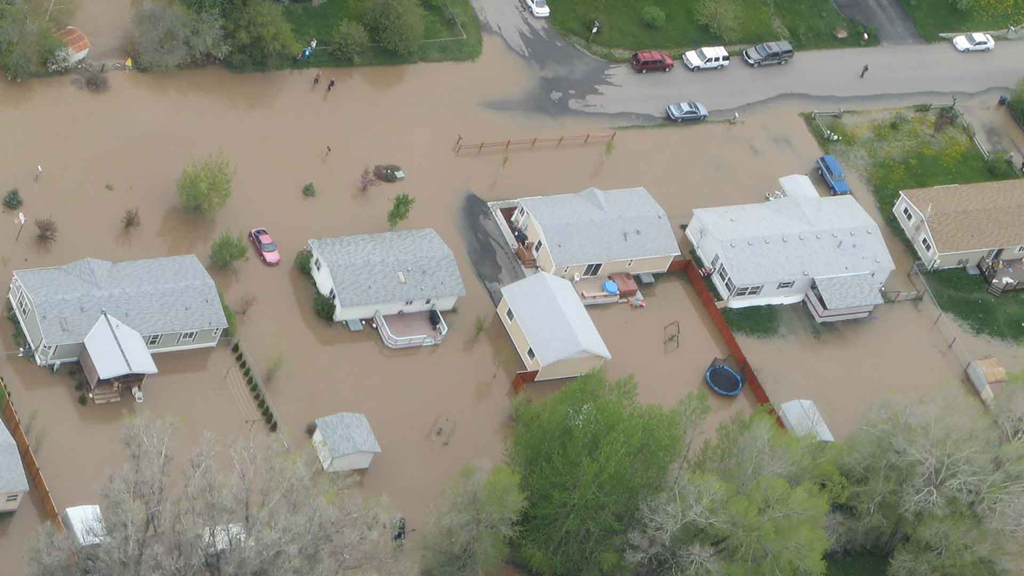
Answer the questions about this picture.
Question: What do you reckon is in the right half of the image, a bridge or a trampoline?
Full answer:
What appears in the right half of the image is a trampoline.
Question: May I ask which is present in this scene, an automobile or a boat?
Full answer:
The one in the frame is an automobile.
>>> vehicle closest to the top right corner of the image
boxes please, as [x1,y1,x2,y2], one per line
[951,32,995,52]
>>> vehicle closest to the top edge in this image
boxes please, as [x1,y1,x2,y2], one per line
[518,0,554,24]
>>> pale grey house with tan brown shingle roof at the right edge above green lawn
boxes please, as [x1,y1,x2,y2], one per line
[893,179,1024,269]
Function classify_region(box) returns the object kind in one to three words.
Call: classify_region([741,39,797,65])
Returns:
truck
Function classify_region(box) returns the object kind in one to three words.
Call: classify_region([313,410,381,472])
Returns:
shed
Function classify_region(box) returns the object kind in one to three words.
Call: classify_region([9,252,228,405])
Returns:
house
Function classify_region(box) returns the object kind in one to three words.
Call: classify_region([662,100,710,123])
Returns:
car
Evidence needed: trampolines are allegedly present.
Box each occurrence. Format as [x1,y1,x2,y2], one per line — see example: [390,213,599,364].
[706,350,747,396]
